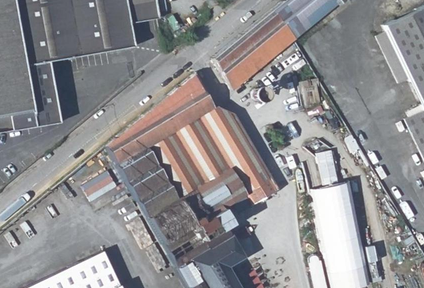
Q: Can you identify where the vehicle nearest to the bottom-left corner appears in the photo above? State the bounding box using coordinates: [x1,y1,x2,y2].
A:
[4,230,18,248]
